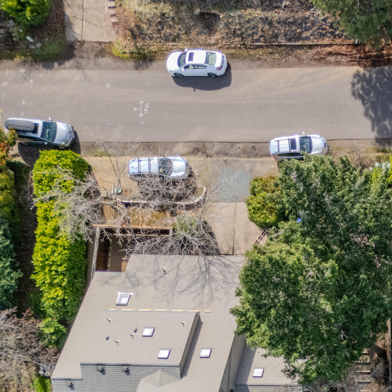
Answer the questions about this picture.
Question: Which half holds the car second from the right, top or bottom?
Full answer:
The car second from the right sits in the top half of the picture.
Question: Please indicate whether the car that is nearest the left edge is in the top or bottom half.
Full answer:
You can find the car that is nearest the left edge in the top half.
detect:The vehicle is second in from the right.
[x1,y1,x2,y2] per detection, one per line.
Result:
[167,49,230,82]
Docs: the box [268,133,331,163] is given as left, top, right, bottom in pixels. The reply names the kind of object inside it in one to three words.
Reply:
car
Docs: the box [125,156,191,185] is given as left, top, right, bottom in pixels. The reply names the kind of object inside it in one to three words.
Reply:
car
